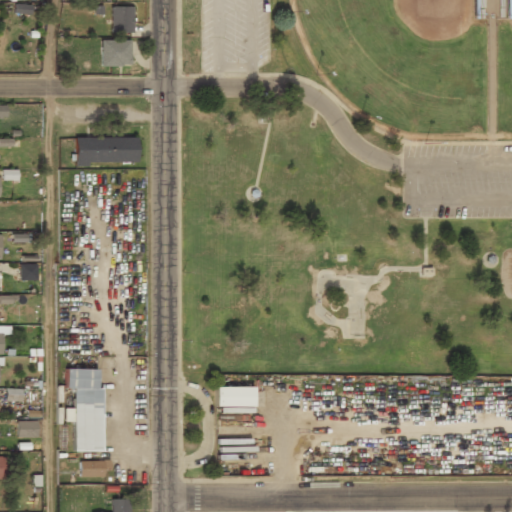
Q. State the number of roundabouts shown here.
0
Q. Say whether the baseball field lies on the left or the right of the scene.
right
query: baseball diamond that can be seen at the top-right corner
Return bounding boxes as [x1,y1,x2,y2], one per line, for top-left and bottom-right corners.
[394,0,478,41]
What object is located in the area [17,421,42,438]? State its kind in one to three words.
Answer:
house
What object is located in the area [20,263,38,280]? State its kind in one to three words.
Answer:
house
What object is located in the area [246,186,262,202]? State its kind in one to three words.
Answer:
gazebo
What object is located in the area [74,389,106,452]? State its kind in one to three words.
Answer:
building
